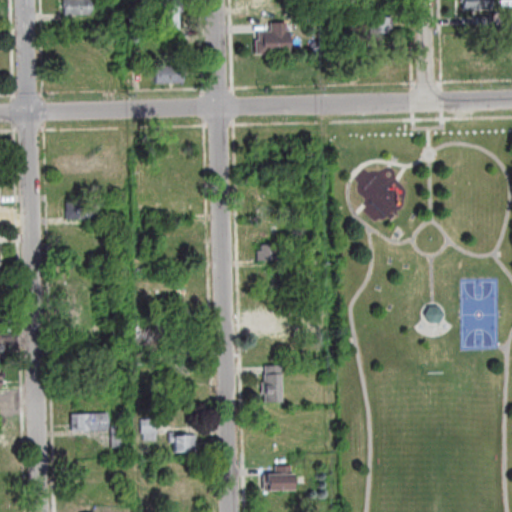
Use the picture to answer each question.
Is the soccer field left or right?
right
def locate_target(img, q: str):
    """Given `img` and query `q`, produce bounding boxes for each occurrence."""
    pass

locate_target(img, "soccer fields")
[379,373,496,512]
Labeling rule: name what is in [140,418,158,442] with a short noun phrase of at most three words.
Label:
building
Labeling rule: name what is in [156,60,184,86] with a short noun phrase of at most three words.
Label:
house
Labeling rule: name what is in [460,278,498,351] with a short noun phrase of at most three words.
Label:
basketball court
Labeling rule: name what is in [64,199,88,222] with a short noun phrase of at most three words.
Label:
house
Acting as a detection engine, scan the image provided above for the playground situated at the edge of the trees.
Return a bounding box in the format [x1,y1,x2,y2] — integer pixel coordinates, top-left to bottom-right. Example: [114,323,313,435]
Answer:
[356,168,404,220]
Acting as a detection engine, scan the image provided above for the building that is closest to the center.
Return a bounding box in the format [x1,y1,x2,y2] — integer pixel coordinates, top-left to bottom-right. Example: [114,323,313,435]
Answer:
[254,240,274,262]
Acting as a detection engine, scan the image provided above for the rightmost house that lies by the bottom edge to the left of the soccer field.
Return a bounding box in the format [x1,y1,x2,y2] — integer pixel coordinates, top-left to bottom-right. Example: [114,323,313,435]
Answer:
[261,465,298,492]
